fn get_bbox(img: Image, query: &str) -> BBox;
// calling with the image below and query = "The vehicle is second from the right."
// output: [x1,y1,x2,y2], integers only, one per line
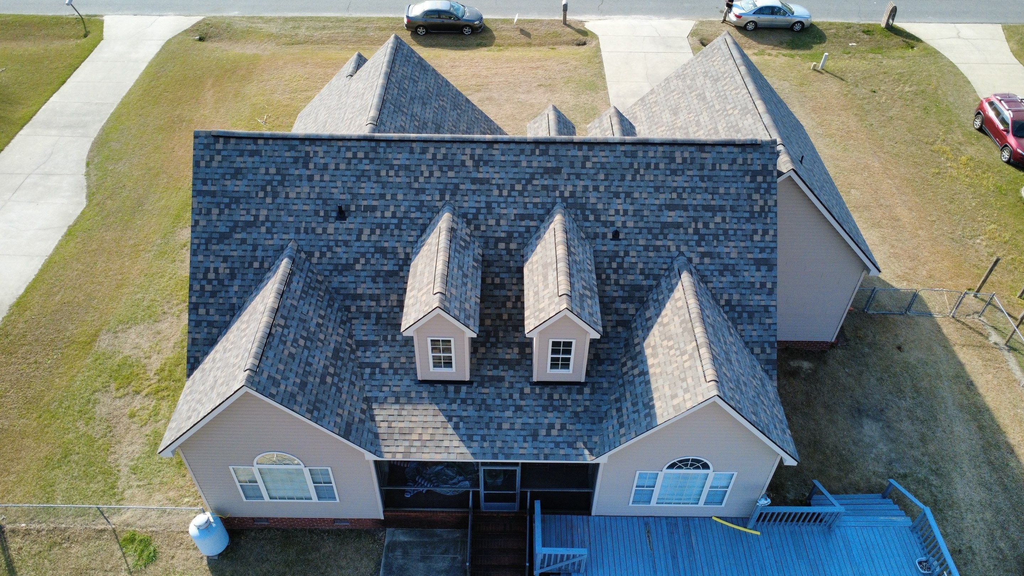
[729,0,816,32]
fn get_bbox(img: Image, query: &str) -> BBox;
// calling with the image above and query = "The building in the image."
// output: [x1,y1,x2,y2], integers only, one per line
[158,31,882,576]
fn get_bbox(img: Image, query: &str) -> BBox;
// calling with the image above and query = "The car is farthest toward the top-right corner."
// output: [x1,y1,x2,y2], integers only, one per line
[974,85,1024,165]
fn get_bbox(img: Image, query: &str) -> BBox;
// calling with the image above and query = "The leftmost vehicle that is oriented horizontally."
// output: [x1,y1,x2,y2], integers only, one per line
[403,0,484,35]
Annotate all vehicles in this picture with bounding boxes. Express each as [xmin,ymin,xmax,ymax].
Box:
[729,0,816,32]
[974,85,1024,165]
[403,0,484,35]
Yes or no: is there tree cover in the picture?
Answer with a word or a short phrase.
No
